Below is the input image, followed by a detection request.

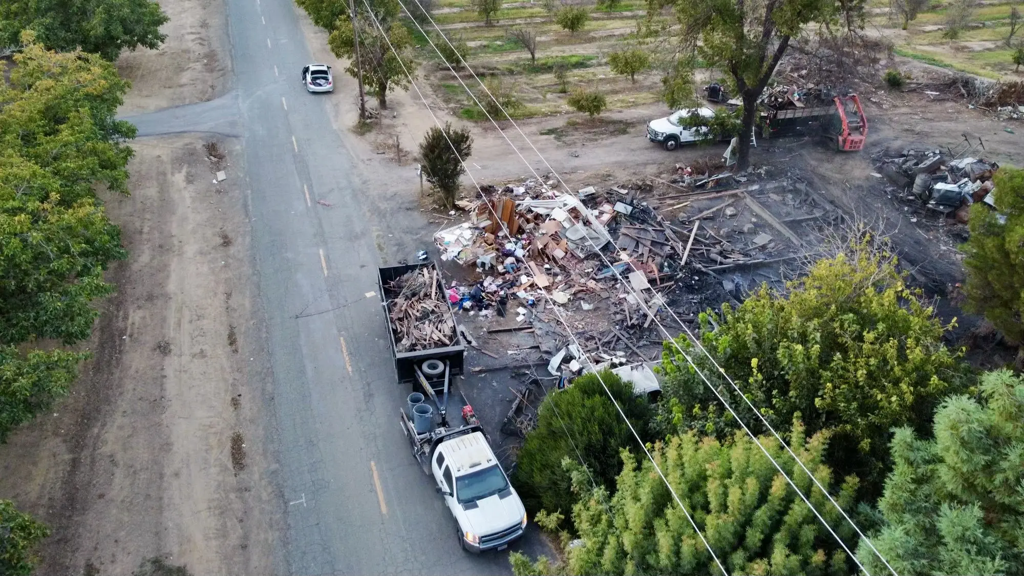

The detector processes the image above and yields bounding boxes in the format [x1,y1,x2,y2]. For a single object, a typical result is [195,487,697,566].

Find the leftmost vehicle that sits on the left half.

[297,63,334,92]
